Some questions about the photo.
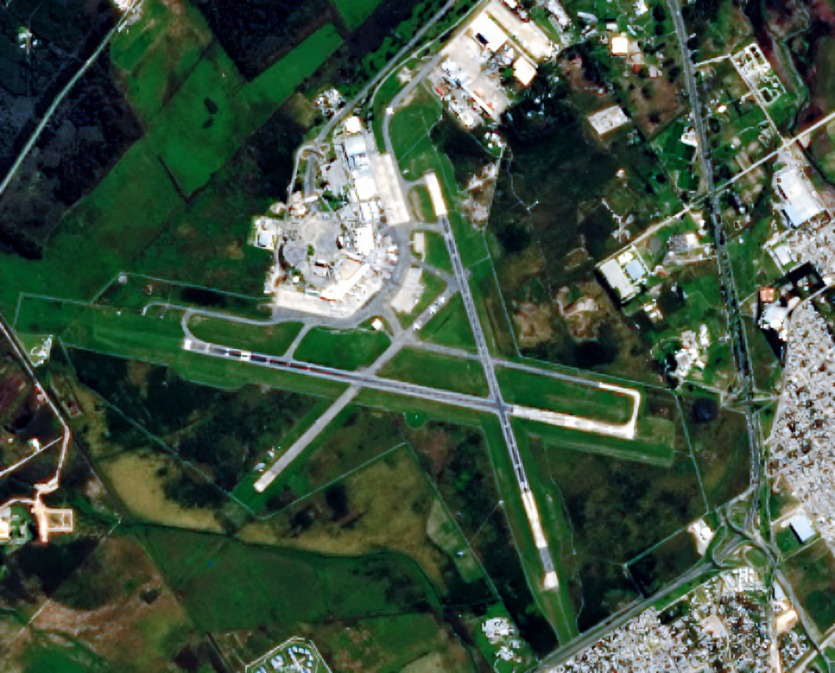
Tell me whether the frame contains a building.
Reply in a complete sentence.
Yes, there is a building in the image.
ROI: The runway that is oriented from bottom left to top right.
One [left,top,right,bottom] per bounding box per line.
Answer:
[255,285,469,492]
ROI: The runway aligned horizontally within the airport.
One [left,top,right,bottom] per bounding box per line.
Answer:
[183,339,635,439]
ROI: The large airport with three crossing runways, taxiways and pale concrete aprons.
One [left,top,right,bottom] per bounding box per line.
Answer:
[142,32,640,592]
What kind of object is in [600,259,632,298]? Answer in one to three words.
building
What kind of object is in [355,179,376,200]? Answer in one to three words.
hangar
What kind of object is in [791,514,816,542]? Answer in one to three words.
building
